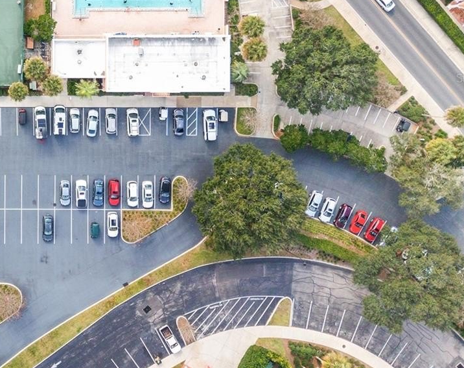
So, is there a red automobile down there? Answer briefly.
Yes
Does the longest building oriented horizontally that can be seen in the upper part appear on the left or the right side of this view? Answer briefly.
left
